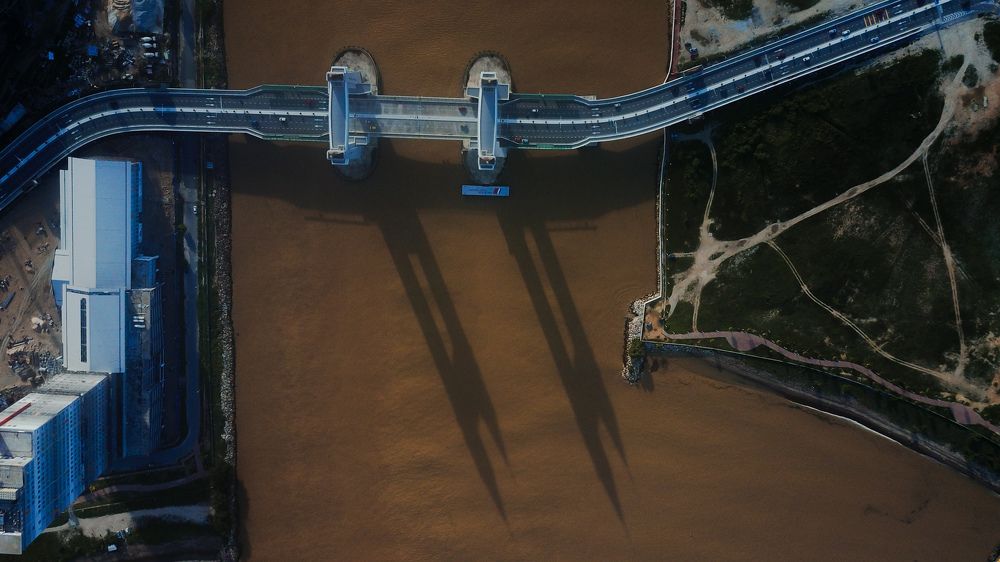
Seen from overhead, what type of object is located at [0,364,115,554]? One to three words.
building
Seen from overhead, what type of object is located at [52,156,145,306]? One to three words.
building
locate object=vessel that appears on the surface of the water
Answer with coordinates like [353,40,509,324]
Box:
[462,184,509,196]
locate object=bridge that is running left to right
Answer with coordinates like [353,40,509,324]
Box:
[0,0,967,211]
